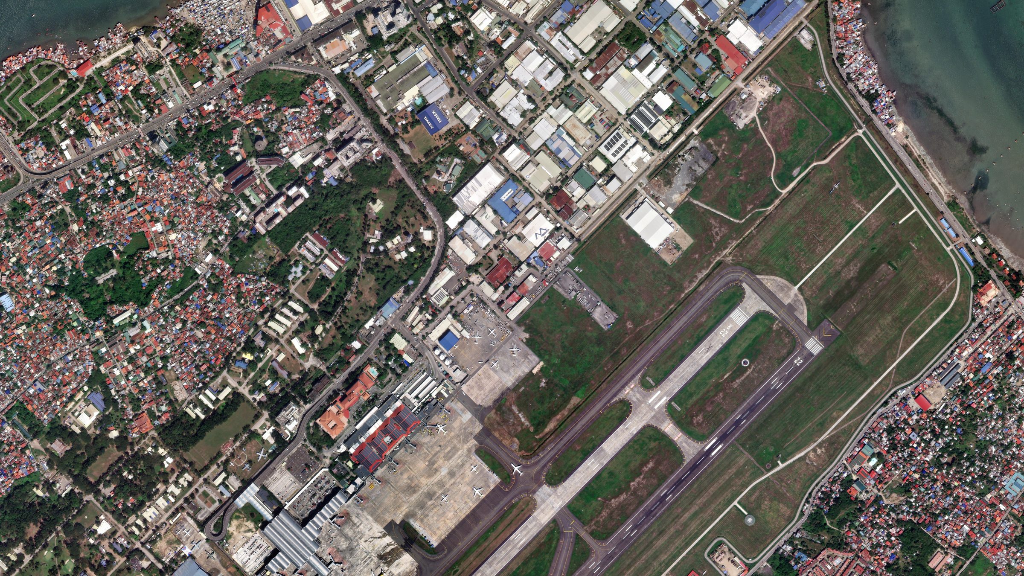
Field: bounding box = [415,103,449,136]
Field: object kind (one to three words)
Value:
building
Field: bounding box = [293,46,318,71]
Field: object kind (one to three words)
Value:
building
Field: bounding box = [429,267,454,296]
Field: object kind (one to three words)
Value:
shed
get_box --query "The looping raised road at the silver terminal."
[205,445,295,541]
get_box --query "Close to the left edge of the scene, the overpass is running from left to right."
[0,130,116,176]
